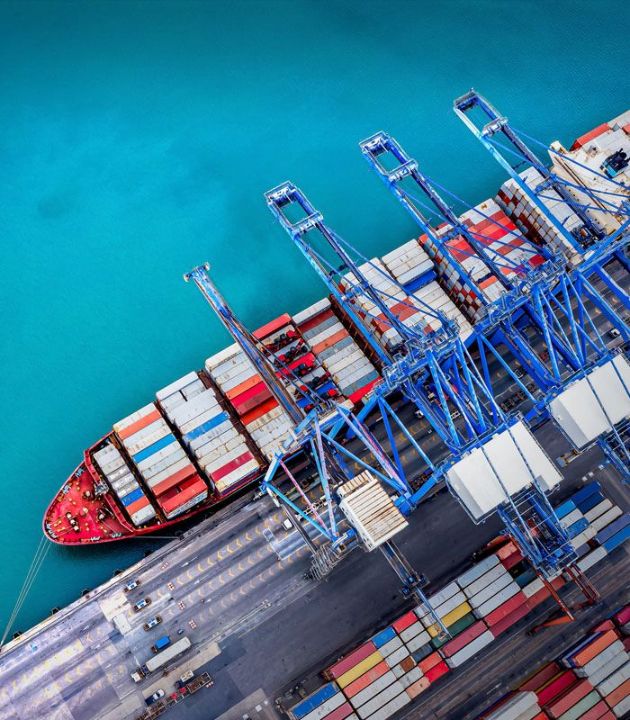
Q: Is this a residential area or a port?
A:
port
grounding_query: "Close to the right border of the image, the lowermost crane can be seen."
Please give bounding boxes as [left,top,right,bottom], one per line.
[472,530,603,637]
